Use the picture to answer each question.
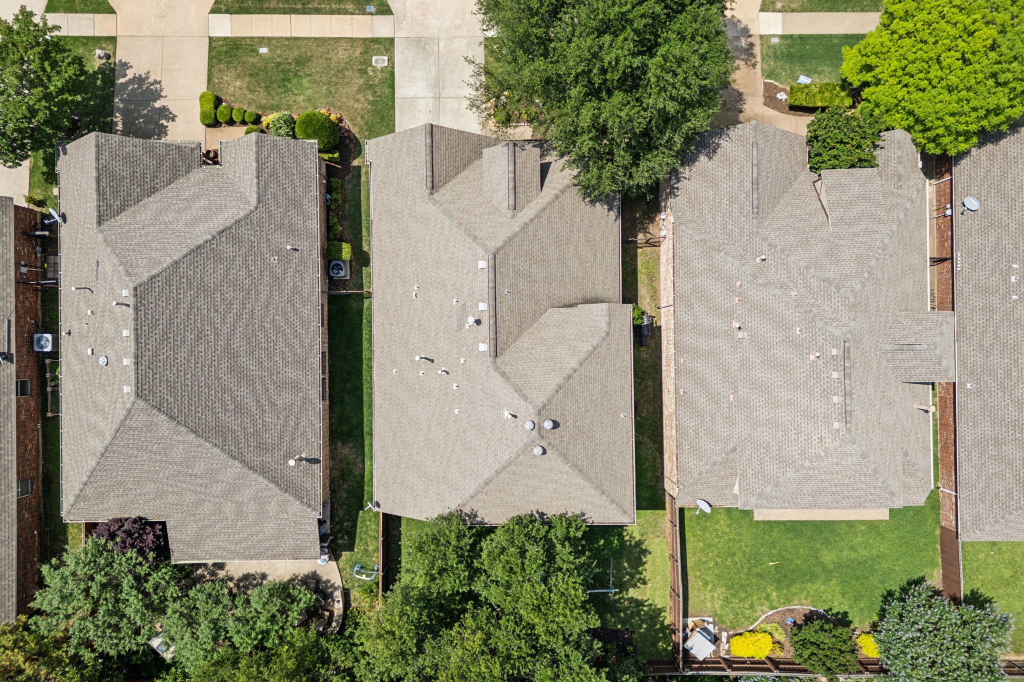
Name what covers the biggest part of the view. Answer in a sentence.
The largest share of the image is taken up by buildings.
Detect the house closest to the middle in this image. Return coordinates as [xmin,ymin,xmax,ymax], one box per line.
[365,123,638,527]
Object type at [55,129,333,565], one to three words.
house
